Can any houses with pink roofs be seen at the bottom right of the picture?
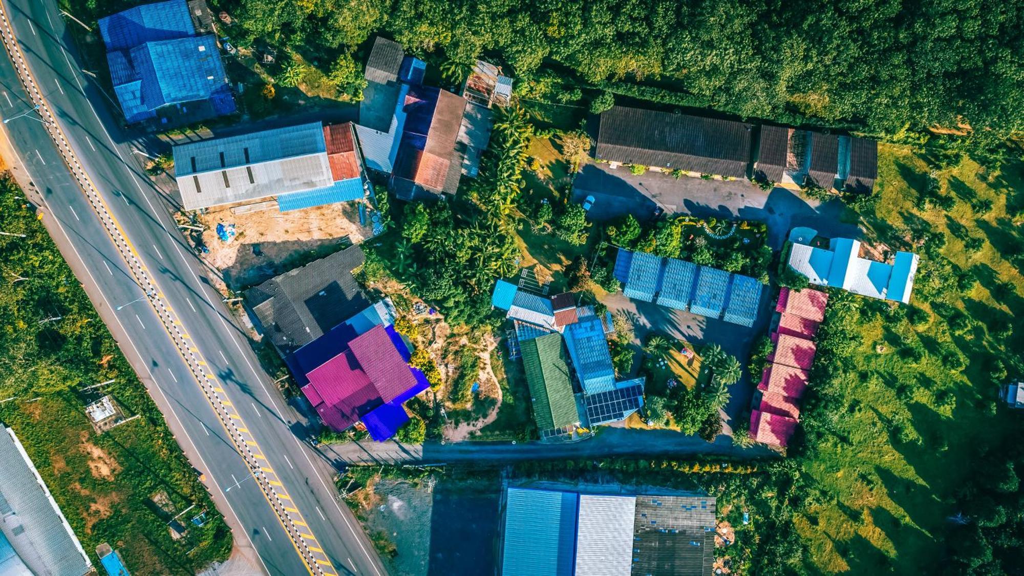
Yes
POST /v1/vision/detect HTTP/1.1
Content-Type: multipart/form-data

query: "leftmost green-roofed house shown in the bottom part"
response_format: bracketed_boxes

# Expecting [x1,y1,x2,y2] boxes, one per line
[517,333,579,431]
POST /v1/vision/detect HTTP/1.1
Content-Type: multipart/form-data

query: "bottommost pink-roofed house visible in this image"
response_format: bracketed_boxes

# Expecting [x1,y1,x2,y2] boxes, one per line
[741,410,798,447]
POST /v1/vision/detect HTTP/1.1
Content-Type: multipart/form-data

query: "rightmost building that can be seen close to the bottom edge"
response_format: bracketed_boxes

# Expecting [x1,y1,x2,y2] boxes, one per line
[502,484,716,576]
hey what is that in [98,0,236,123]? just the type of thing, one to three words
house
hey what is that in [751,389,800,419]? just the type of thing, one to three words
house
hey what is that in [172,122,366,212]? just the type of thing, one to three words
building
